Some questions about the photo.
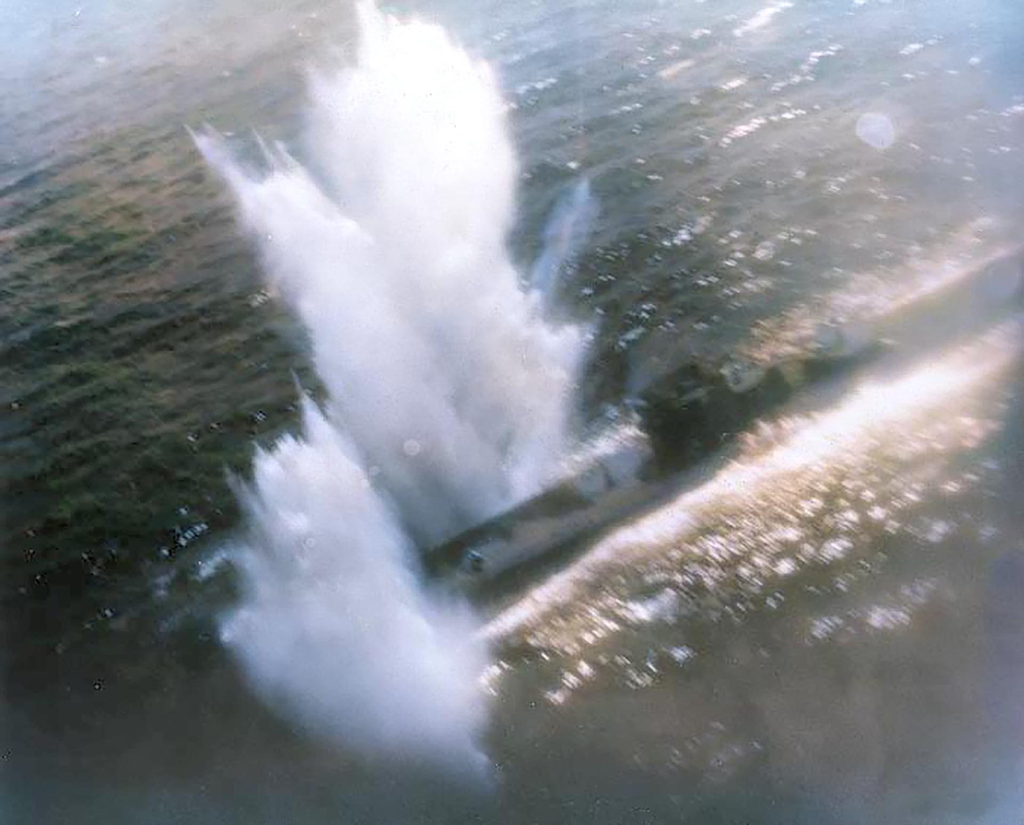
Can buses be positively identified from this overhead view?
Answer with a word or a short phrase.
No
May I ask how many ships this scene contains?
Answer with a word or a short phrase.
one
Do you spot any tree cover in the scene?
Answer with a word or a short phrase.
No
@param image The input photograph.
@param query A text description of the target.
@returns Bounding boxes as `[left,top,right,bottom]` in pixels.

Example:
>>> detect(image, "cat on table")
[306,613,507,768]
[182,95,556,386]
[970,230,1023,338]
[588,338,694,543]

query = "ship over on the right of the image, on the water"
[402,340,904,591]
